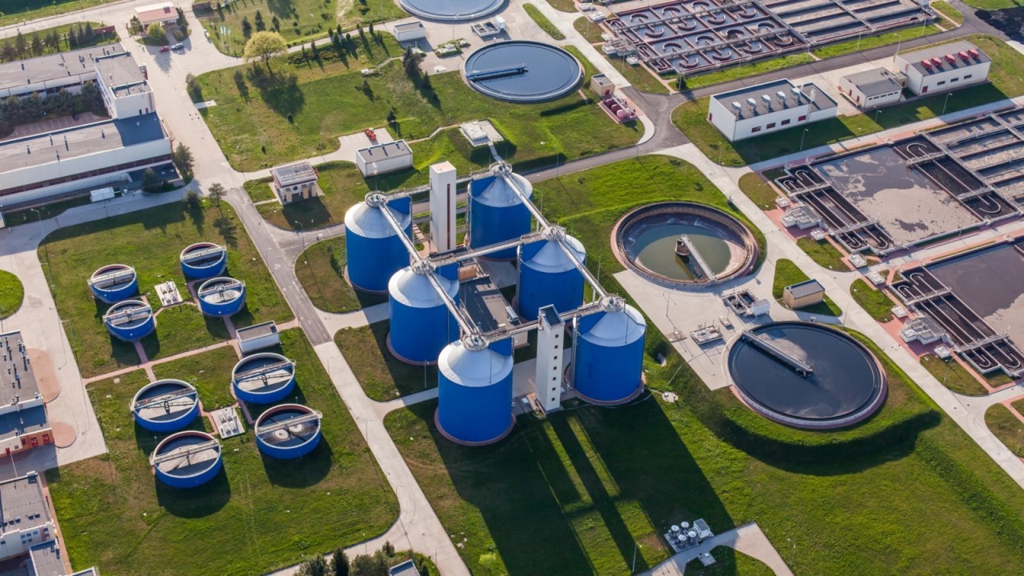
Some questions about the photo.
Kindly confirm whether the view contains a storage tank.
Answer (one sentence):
Yes, there's a storage tank here.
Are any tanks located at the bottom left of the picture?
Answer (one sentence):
Yes, a tank shows up at the bottom left of the picture.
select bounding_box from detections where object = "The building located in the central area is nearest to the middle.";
[458,275,530,348]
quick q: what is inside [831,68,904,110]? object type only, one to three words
building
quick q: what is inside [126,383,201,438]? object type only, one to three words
storage tank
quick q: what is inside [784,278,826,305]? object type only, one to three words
house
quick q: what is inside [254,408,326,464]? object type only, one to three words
storage tank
